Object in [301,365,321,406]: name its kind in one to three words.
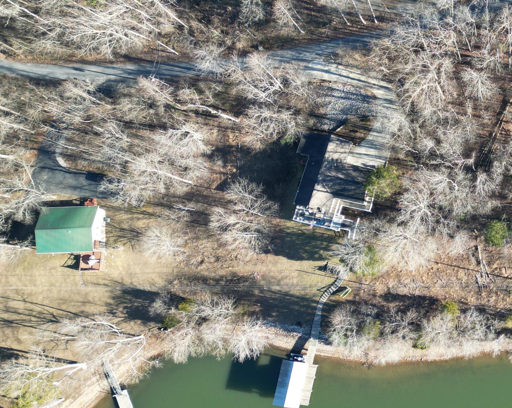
pier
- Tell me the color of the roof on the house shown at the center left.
green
